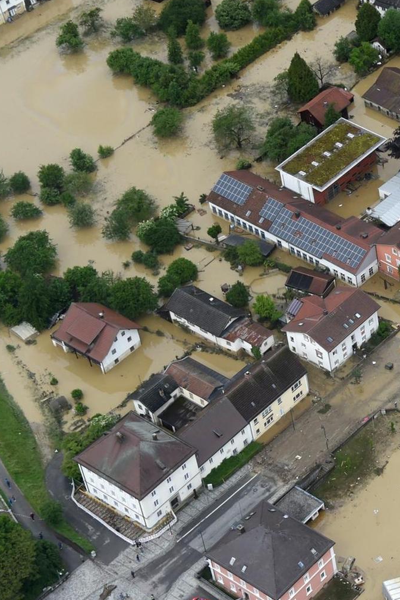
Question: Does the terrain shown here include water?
Yes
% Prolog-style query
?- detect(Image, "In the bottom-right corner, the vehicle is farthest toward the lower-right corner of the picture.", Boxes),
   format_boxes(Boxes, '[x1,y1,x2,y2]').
[342,557,358,573]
